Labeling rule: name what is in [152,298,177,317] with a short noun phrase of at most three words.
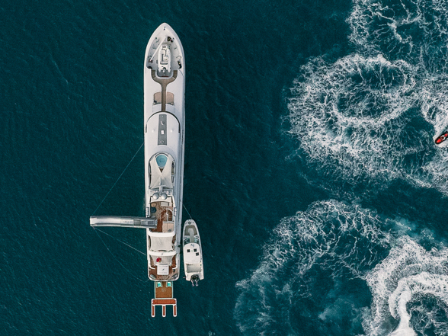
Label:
pier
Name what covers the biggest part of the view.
water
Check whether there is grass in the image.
No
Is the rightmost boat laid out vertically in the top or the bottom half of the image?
bottom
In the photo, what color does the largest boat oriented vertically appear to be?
white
